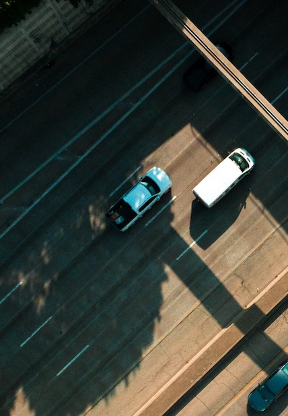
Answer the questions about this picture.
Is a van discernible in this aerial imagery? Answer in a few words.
Yes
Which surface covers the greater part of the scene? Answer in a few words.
paved ground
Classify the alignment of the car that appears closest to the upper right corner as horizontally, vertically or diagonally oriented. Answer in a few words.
diagonally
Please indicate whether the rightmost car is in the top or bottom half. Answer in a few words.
bottom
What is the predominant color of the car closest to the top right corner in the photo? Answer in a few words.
black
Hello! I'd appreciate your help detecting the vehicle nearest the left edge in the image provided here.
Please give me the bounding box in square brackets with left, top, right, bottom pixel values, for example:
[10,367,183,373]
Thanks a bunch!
[105,170,170,232]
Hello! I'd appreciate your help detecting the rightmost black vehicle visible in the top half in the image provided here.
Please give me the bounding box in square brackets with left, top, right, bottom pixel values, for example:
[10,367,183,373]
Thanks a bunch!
[180,41,234,94]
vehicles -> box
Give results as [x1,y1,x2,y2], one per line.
[252,356,288,411]
[105,170,170,232]
[193,151,254,210]
[180,41,234,94]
